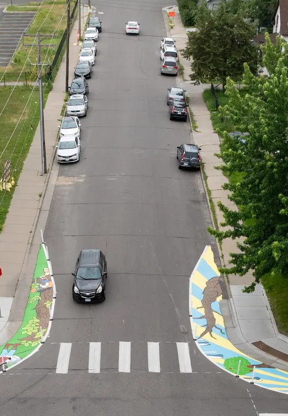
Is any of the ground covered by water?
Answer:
No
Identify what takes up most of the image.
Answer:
paved ground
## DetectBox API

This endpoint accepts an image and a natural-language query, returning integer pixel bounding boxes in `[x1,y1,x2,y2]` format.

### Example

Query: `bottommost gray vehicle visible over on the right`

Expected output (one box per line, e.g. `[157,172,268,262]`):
[173,138,201,167]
